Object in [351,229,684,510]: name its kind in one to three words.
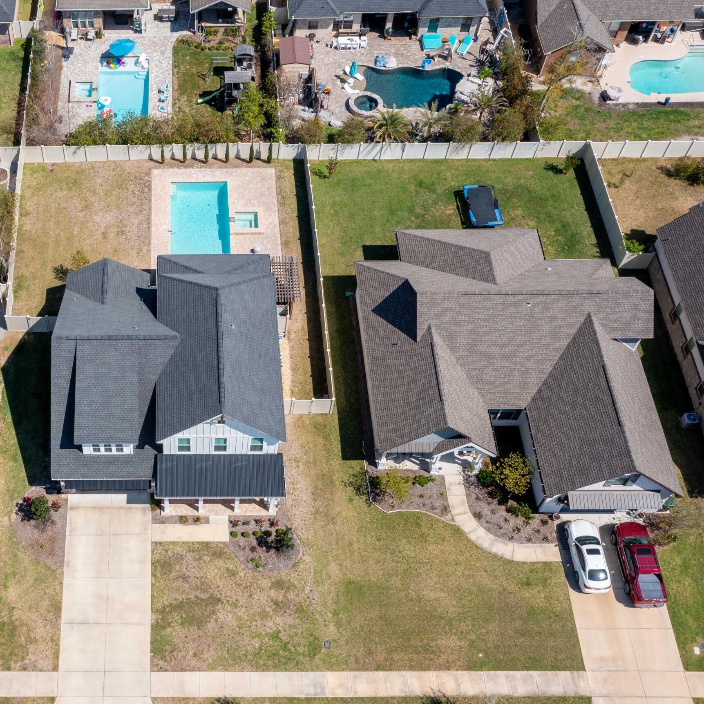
house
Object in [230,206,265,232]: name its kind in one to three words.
swimming pool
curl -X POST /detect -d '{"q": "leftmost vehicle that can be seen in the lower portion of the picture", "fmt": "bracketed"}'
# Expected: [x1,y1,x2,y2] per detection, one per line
[568,517,618,595]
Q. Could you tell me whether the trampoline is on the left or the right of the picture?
right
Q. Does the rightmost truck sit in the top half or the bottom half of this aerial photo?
bottom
